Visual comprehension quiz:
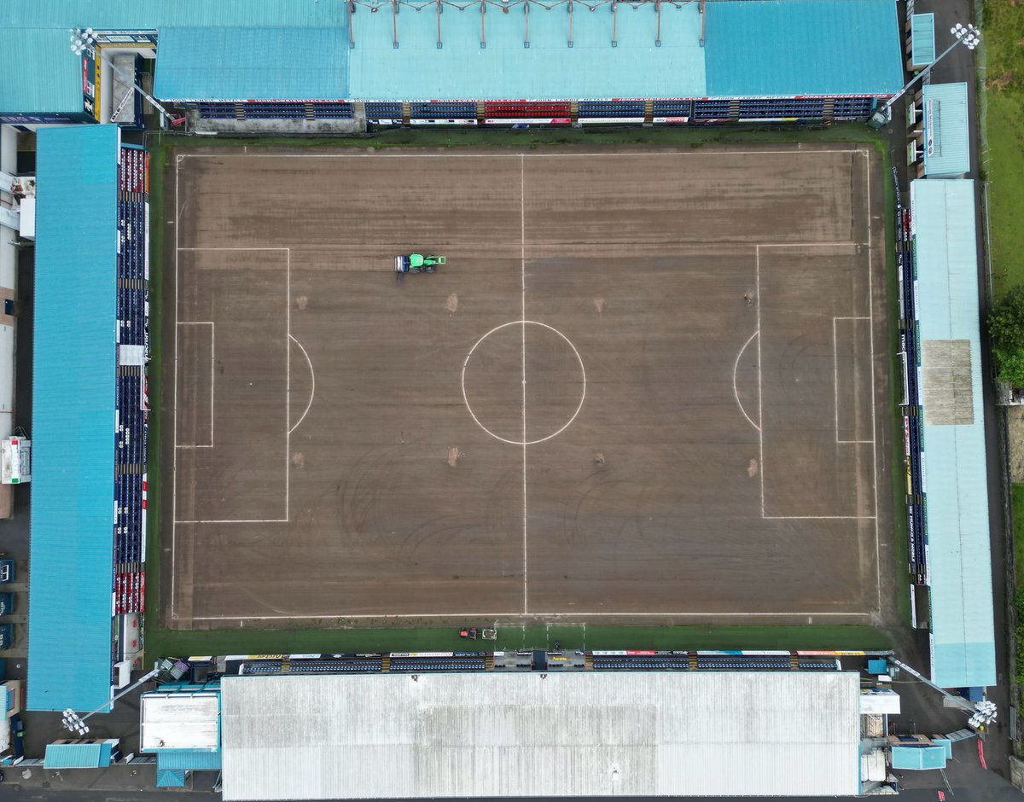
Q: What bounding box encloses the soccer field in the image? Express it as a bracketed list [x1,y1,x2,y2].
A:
[137,128,914,661]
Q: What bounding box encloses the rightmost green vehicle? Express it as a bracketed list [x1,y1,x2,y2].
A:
[407,256,446,275]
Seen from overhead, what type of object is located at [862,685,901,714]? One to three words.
building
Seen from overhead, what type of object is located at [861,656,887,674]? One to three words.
shed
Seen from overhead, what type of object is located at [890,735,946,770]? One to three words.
house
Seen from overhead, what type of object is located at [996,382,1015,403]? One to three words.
shed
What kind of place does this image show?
sports ground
